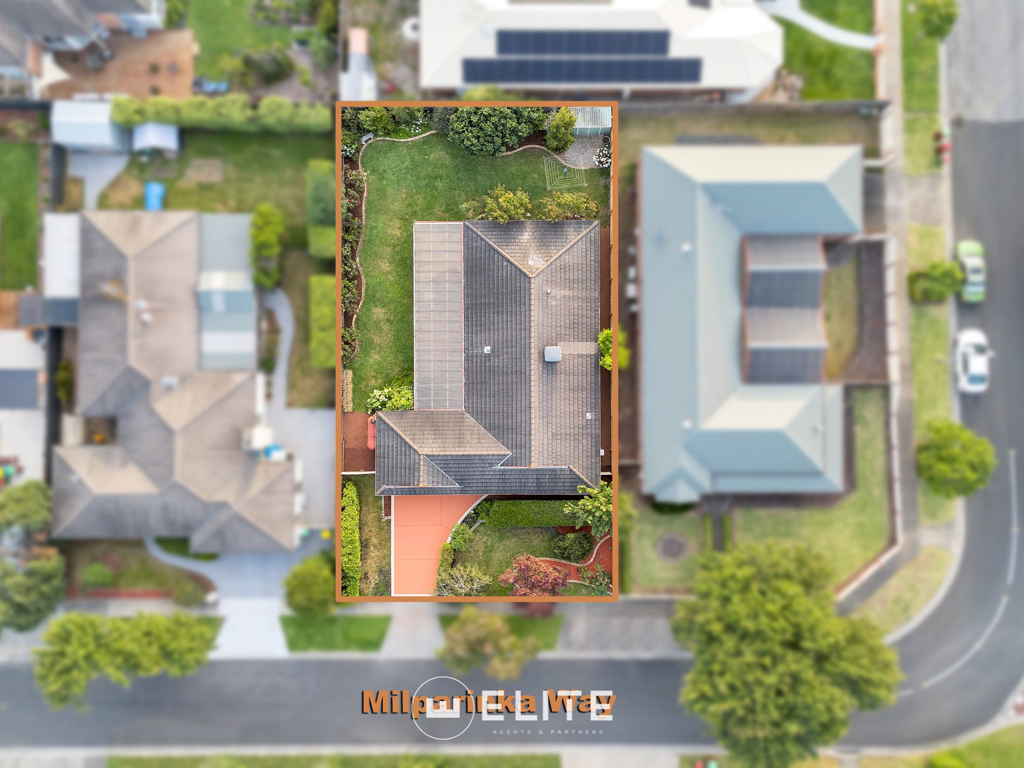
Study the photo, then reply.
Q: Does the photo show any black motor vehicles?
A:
No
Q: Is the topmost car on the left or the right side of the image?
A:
right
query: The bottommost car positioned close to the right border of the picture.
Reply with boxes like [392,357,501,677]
[959,331,994,392]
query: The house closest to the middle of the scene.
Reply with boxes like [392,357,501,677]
[374,218,602,496]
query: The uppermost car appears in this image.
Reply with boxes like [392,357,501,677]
[959,241,992,301]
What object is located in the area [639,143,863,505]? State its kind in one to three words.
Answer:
house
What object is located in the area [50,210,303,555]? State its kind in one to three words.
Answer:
house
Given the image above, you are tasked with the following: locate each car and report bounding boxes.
[959,241,992,301]
[959,331,994,392]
